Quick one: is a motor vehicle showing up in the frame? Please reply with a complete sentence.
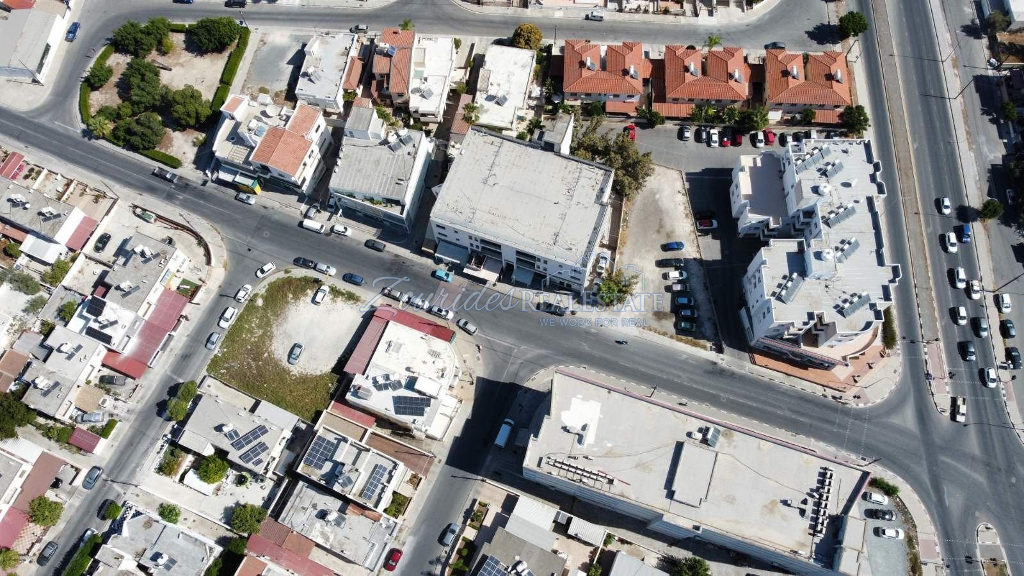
Yes, a motor vehicle can be made out from above.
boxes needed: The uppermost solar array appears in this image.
[86,295,107,316]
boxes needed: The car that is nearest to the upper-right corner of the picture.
[1003,187,1017,206]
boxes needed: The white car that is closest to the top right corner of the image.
[939,196,953,216]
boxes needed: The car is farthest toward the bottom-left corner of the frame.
[35,538,60,569]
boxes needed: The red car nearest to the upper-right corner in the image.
[763,126,775,148]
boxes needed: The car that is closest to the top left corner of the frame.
[67,25,79,39]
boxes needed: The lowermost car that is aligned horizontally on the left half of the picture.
[75,411,103,424]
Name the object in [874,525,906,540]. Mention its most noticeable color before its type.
white car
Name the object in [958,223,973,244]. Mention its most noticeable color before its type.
blue car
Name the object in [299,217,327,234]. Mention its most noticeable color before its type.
white vehicle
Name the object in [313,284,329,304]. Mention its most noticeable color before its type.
white car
